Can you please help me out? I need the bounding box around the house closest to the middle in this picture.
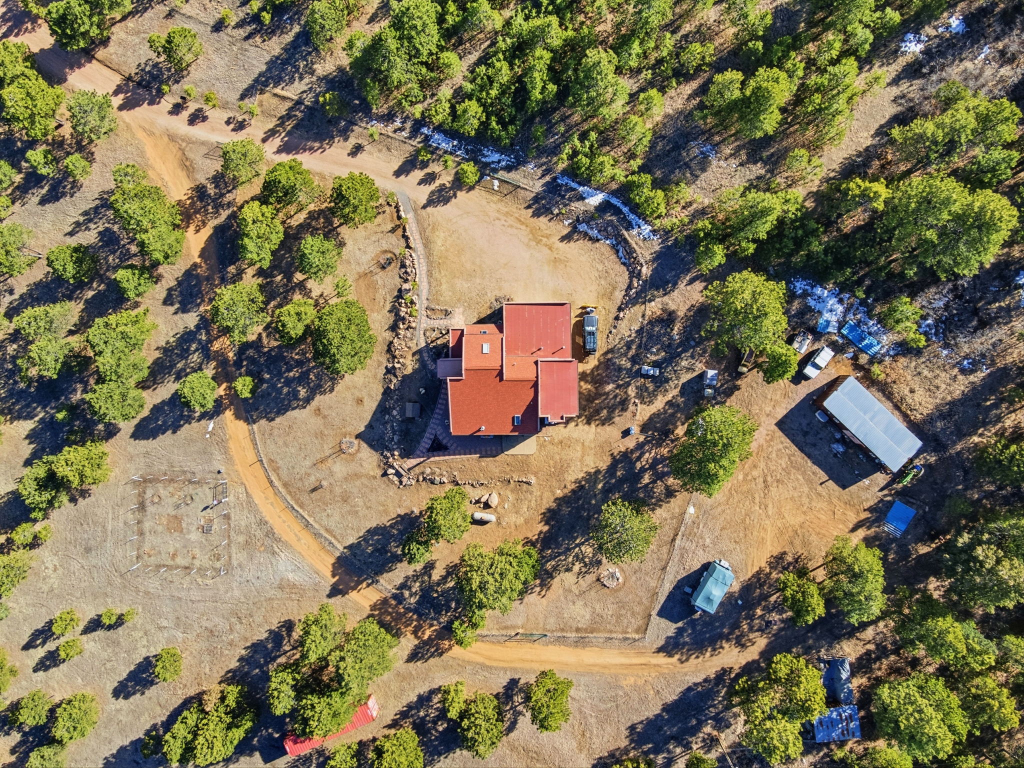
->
[437,302,579,436]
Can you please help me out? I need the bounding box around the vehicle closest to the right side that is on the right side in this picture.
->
[899,461,931,490]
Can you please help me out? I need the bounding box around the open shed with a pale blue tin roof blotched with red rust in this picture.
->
[806,700,861,743]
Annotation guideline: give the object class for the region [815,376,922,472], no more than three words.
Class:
barn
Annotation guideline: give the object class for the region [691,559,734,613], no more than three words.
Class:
camper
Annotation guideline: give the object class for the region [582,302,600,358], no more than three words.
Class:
car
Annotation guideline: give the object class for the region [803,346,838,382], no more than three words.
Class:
car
